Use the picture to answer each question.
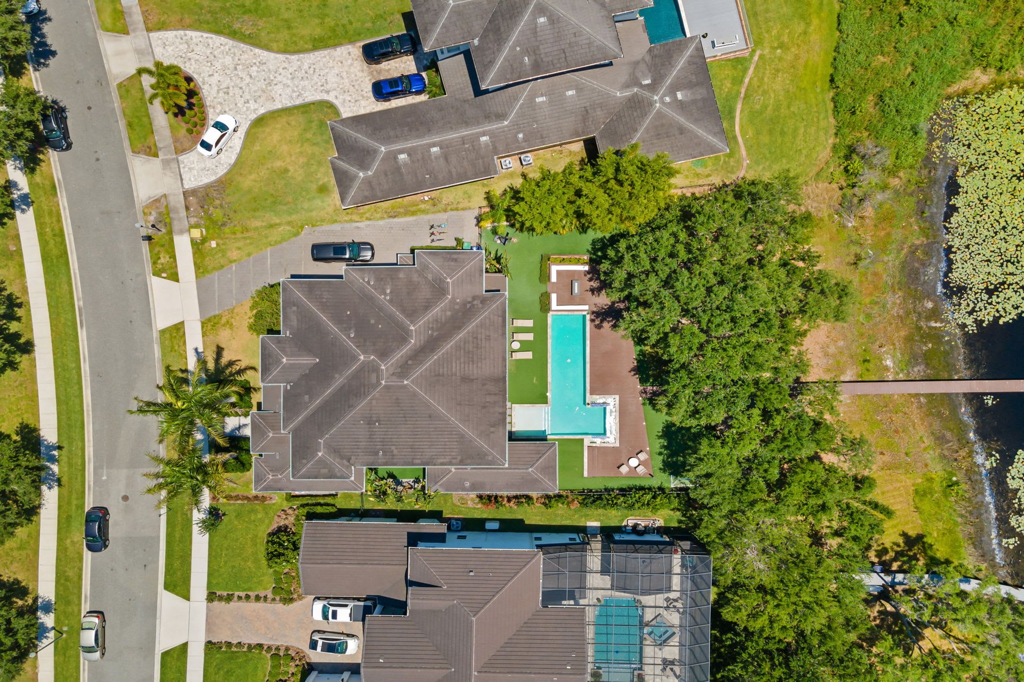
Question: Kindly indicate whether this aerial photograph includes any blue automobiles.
Yes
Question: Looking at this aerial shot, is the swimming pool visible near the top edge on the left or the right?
right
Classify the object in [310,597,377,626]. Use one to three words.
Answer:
truck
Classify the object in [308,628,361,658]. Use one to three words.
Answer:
car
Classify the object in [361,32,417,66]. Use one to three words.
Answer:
car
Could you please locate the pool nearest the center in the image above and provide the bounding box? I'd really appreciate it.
[512,312,619,477]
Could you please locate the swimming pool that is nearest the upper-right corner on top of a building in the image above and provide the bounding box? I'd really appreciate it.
[643,0,695,44]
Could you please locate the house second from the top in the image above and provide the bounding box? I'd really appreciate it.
[250,249,559,494]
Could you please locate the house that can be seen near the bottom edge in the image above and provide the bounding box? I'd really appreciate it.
[298,515,682,682]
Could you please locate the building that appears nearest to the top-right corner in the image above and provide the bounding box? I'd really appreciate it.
[327,0,730,211]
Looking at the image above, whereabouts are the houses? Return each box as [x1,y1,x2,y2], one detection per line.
[298,515,682,682]
[327,0,730,211]
[250,249,559,494]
